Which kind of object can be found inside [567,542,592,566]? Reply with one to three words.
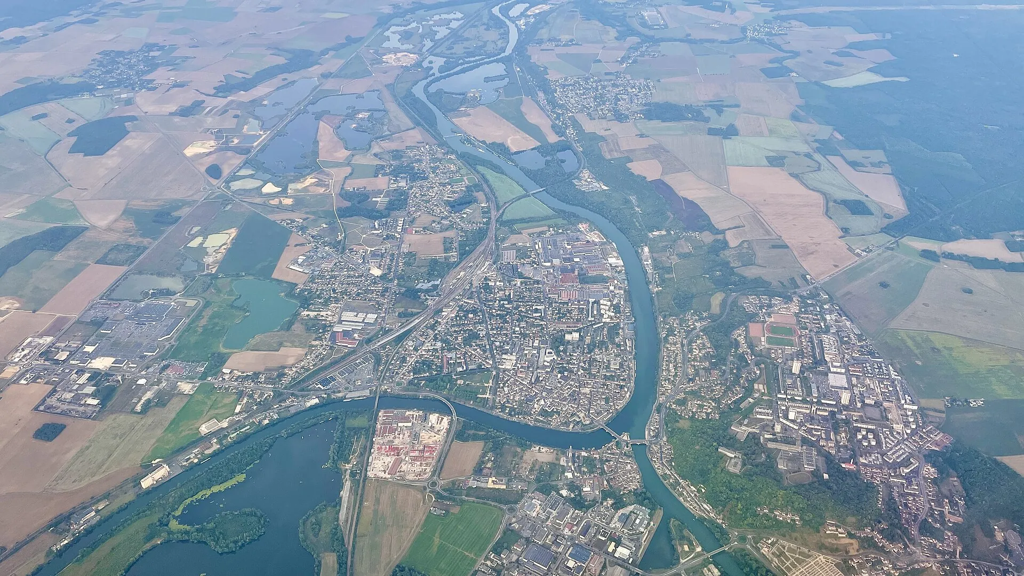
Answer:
building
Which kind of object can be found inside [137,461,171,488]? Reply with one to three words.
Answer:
silo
